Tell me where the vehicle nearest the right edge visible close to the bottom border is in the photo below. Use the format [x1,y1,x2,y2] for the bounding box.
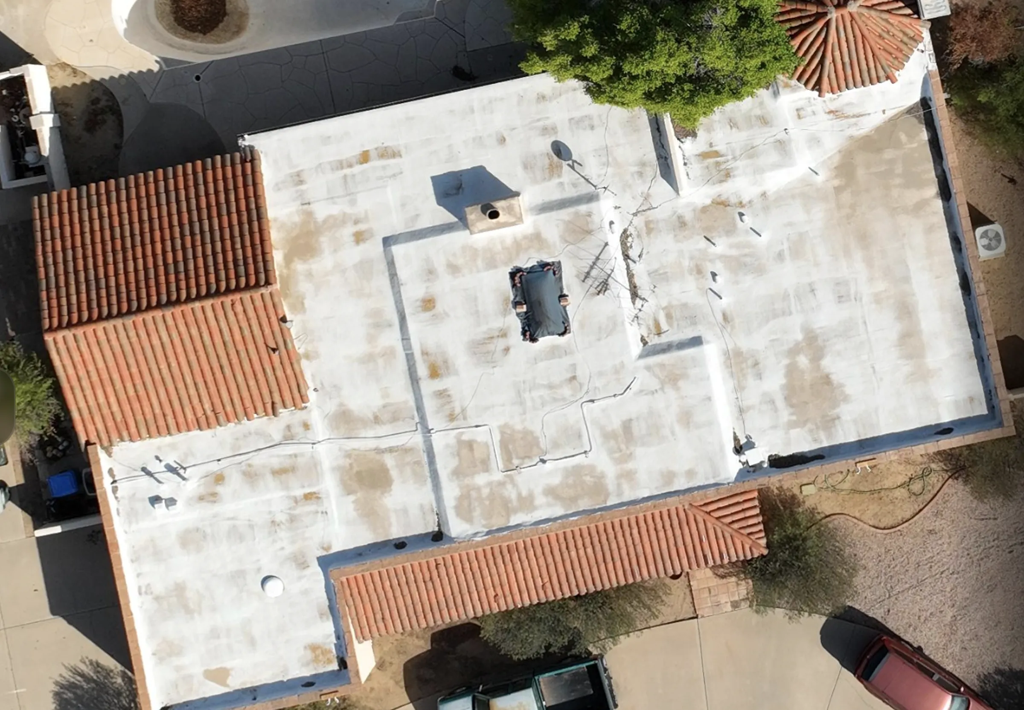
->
[852,633,992,710]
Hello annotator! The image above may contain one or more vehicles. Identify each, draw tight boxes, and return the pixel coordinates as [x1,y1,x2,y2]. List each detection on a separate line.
[852,633,992,710]
[440,651,620,710]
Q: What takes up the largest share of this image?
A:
buildings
